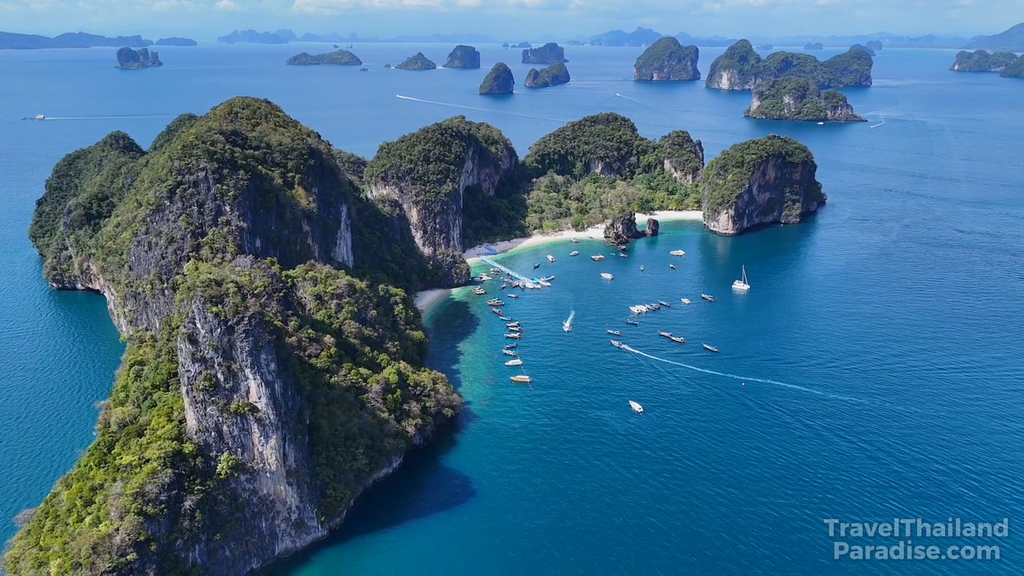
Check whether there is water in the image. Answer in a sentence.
Yes, the picture does contain water.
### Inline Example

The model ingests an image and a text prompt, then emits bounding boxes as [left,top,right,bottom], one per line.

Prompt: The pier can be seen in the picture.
[478,244,540,283]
